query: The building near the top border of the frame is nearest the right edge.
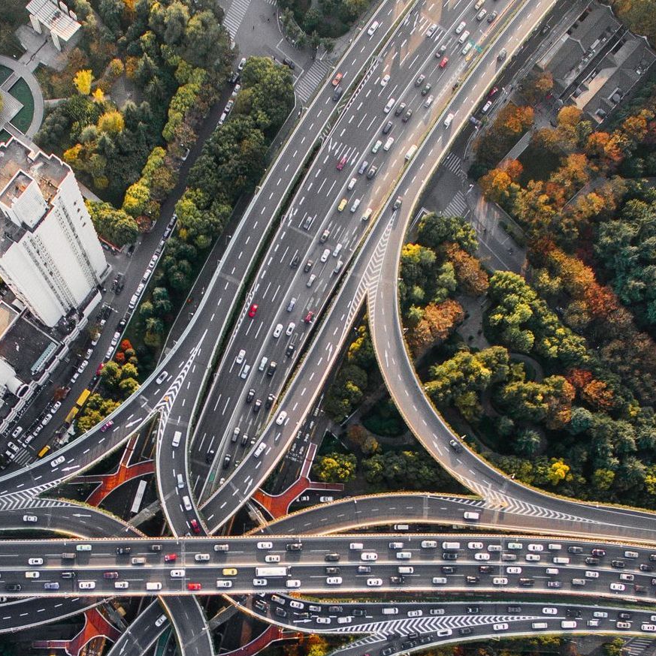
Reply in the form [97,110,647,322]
[611,31,656,77]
